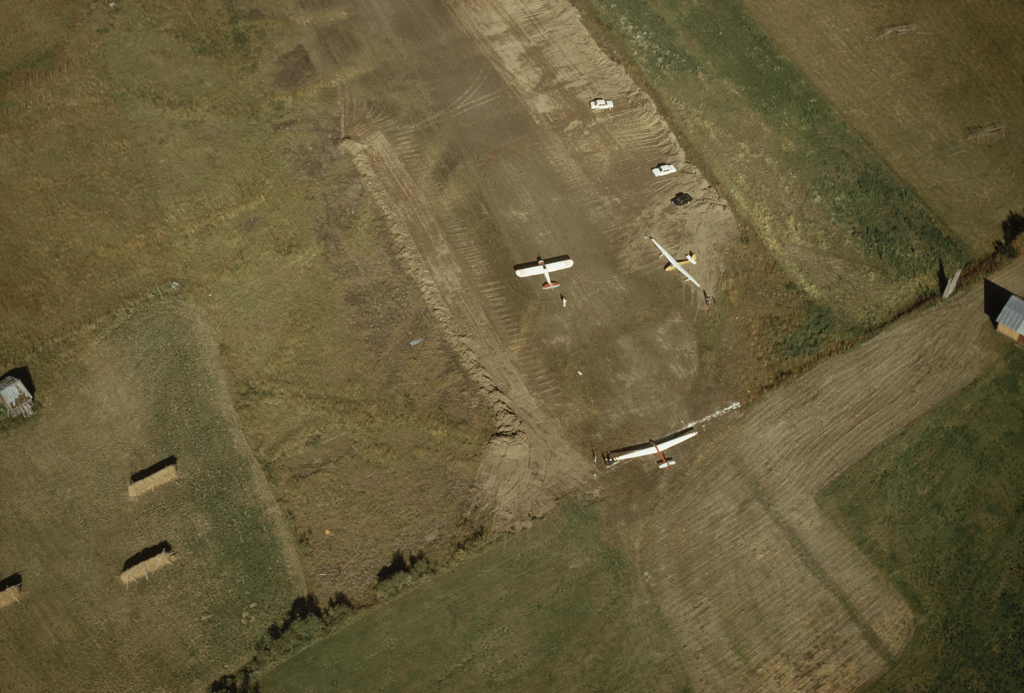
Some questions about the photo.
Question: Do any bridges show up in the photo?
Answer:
No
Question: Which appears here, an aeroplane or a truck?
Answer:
aeroplane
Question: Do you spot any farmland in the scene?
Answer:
Yes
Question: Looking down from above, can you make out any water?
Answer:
No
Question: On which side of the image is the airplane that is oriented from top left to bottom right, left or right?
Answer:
right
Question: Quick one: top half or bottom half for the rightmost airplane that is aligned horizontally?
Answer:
bottom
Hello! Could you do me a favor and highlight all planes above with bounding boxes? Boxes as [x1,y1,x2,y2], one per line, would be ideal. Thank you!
[651,238,701,286]
[515,258,574,289]
[613,432,700,472]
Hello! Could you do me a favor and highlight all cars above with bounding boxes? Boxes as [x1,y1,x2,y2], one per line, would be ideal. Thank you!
[651,164,676,176]
[591,100,615,110]
[671,194,694,207]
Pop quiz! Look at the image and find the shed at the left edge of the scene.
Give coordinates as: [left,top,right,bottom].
[0,374,32,416]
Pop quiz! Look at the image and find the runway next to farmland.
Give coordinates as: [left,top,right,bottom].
[293,0,744,558]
